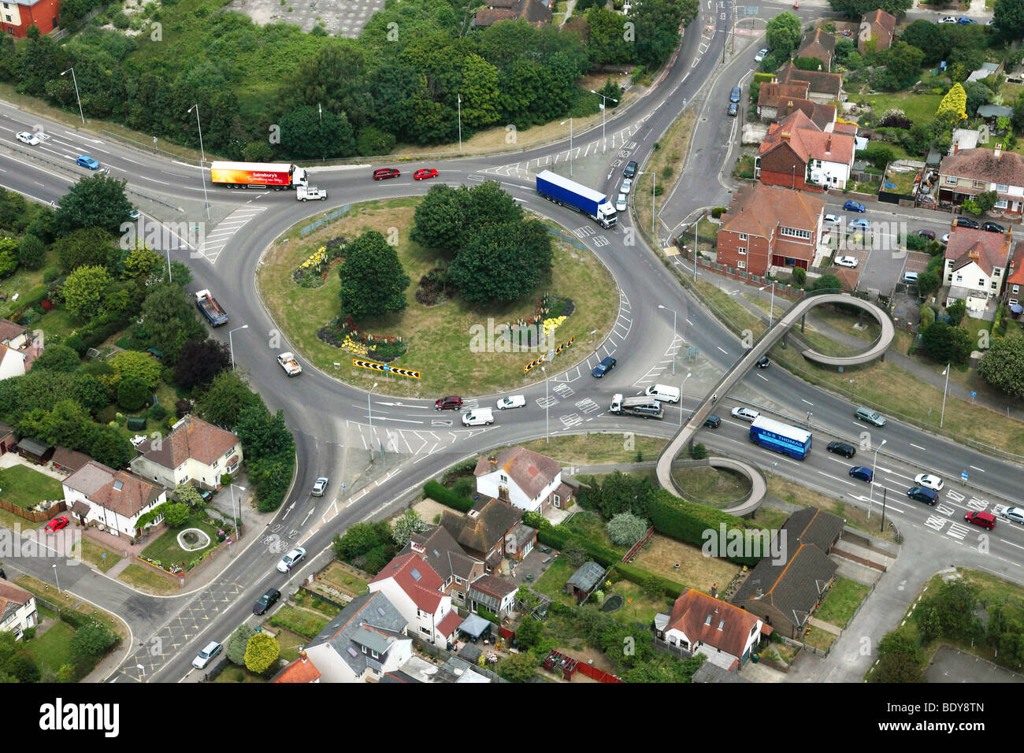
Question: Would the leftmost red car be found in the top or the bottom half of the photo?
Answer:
bottom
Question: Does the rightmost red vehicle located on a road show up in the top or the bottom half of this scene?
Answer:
bottom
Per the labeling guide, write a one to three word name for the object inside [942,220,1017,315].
house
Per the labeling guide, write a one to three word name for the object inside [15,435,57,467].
shed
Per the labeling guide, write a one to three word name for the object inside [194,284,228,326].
truck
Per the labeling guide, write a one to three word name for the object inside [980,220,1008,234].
car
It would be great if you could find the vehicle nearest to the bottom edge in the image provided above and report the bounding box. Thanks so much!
[192,638,223,668]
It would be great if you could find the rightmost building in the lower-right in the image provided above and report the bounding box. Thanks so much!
[726,494,848,645]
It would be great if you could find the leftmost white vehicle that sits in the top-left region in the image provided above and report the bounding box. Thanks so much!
[15,130,40,144]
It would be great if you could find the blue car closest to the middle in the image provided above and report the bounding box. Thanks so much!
[592,354,618,377]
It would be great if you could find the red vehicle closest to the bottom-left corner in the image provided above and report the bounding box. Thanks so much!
[41,513,72,534]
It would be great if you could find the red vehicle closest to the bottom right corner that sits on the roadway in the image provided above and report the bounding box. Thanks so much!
[964,508,996,528]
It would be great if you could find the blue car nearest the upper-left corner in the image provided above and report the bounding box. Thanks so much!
[76,154,99,168]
